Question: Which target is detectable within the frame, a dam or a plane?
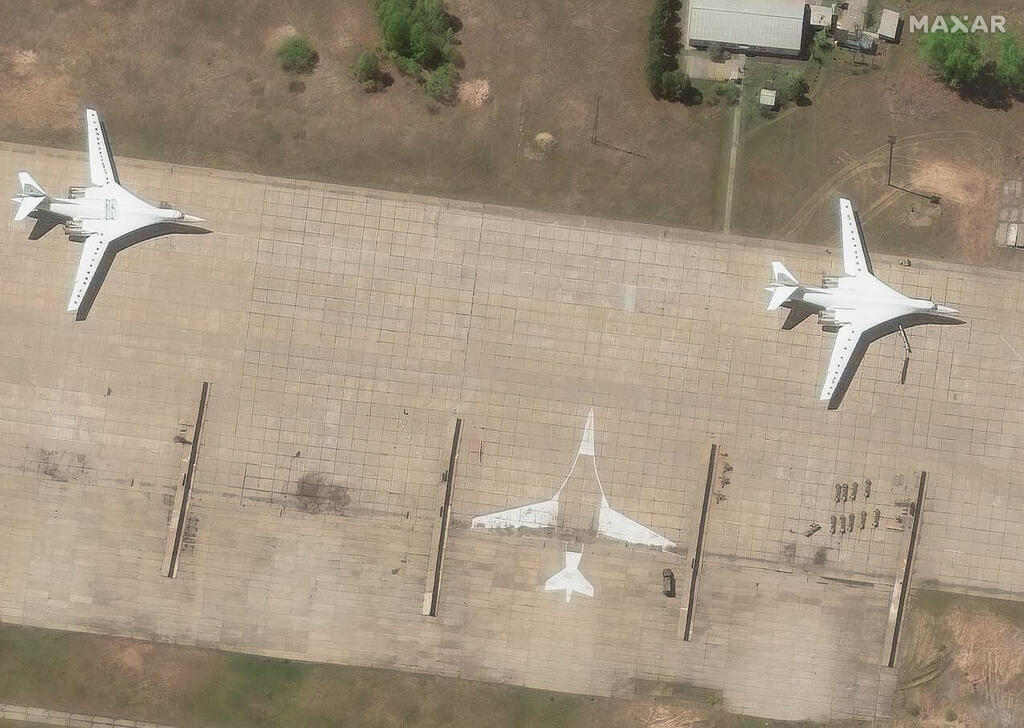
plane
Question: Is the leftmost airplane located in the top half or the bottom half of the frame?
top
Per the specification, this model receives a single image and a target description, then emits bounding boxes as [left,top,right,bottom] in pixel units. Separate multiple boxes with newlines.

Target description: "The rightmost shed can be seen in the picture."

[877,9,902,43]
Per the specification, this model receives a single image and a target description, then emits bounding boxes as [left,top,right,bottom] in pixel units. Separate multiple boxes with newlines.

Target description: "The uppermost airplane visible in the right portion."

[765,198,959,401]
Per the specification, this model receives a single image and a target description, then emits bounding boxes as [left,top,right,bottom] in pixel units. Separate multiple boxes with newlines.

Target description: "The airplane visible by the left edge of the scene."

[12,108,205,311]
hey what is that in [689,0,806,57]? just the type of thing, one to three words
building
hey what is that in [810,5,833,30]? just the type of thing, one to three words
shed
